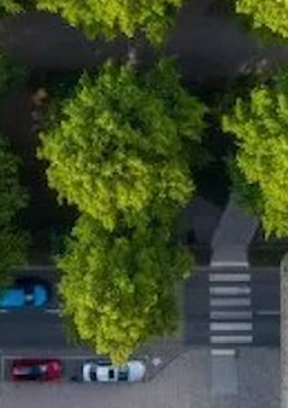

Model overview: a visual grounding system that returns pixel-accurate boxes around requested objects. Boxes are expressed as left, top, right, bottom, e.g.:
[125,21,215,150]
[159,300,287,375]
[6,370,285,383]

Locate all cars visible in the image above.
[13,355,65,382]
[86,355,146,384]
[0,279,47,307]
